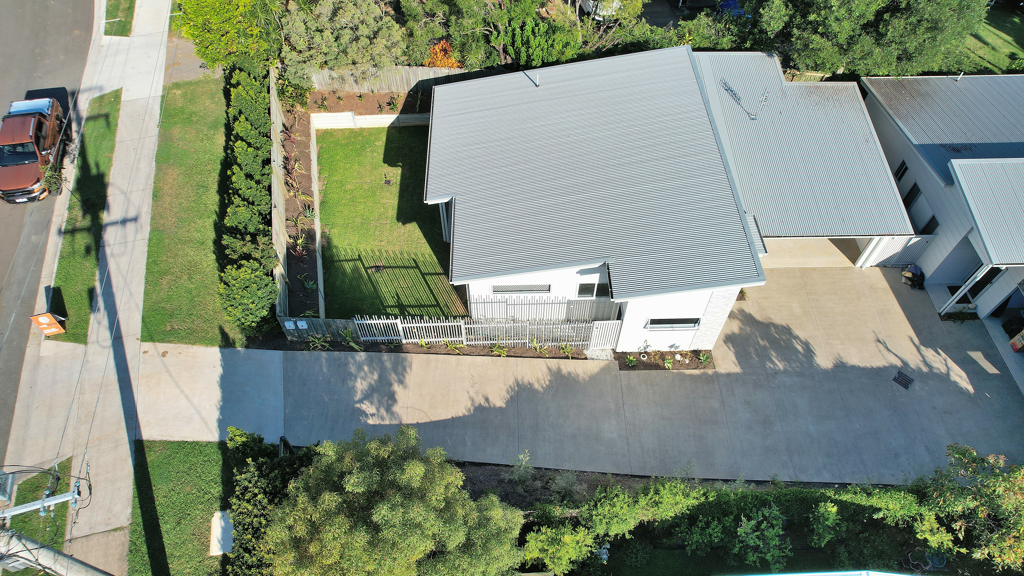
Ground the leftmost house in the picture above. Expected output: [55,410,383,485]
[425,43,914,353]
